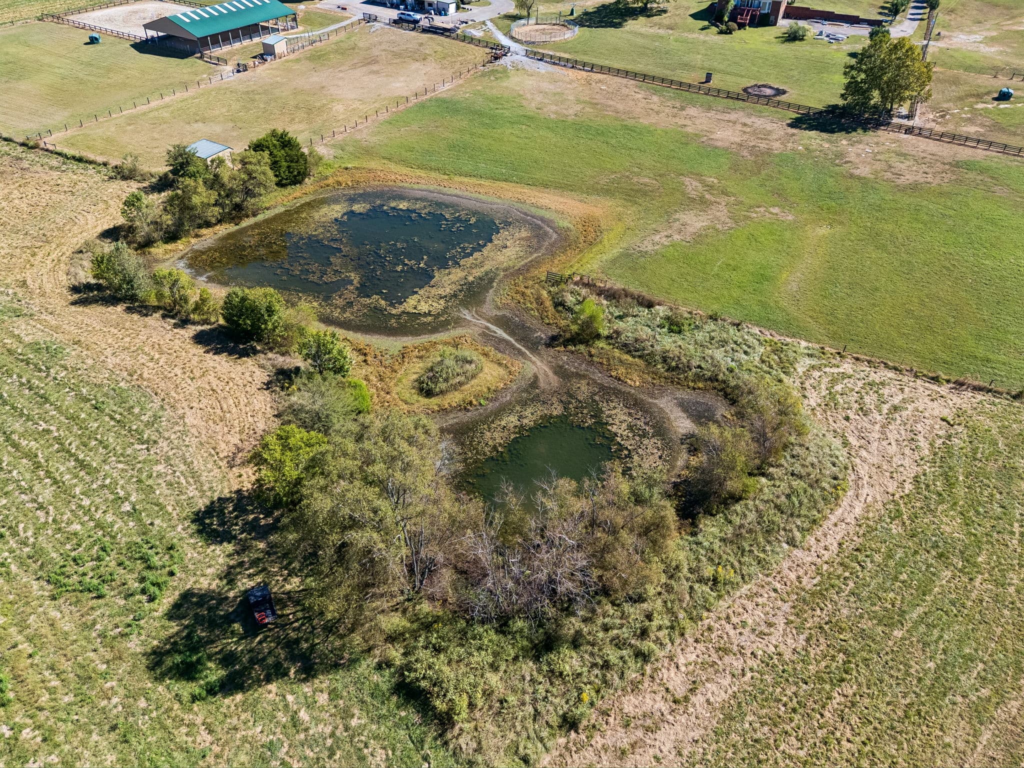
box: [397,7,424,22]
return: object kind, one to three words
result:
vehicle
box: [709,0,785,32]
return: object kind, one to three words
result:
house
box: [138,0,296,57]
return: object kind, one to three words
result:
barn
